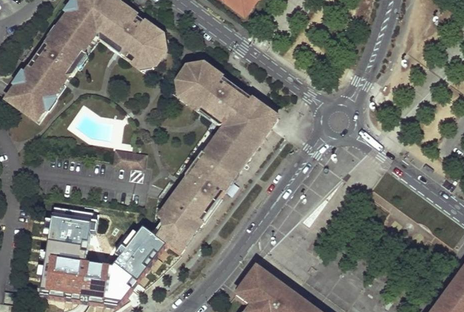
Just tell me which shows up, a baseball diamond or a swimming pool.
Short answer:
swimming pool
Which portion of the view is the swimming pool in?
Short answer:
left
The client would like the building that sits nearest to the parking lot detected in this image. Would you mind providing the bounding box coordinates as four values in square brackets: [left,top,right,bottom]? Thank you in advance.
[114,150,147,170]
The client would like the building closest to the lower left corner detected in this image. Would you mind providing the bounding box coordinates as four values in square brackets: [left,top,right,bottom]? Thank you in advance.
[38,206,165,307]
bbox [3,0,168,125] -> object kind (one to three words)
house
